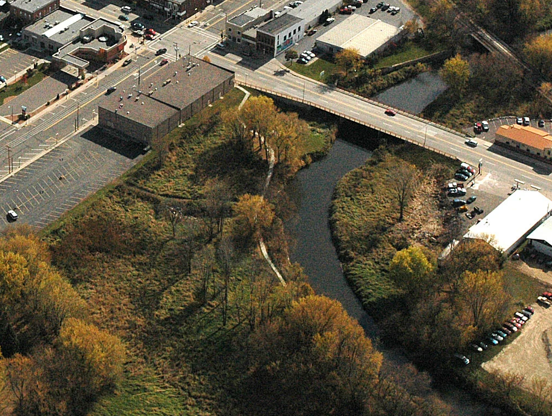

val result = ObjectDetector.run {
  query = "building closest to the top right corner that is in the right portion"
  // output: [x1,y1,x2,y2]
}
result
[497,122,552,165]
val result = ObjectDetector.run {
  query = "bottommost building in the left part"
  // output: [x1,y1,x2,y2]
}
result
[98,54,234,148]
